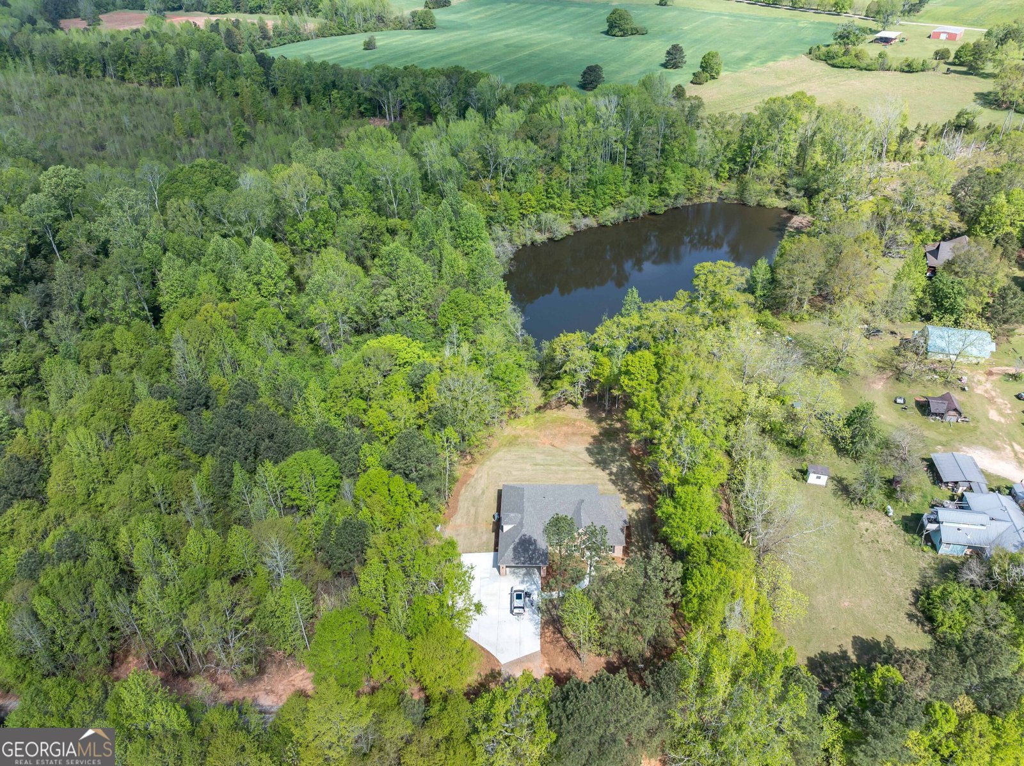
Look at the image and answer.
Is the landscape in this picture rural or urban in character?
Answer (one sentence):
The area shown here is rural.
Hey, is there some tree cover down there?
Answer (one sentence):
Yes, tree cover can be seen from above here.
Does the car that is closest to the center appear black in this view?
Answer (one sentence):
No, from above the car that is closest to the center looks white.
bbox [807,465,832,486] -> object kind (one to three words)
shed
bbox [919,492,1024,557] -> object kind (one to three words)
house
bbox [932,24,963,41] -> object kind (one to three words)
barn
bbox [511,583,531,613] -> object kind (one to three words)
car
